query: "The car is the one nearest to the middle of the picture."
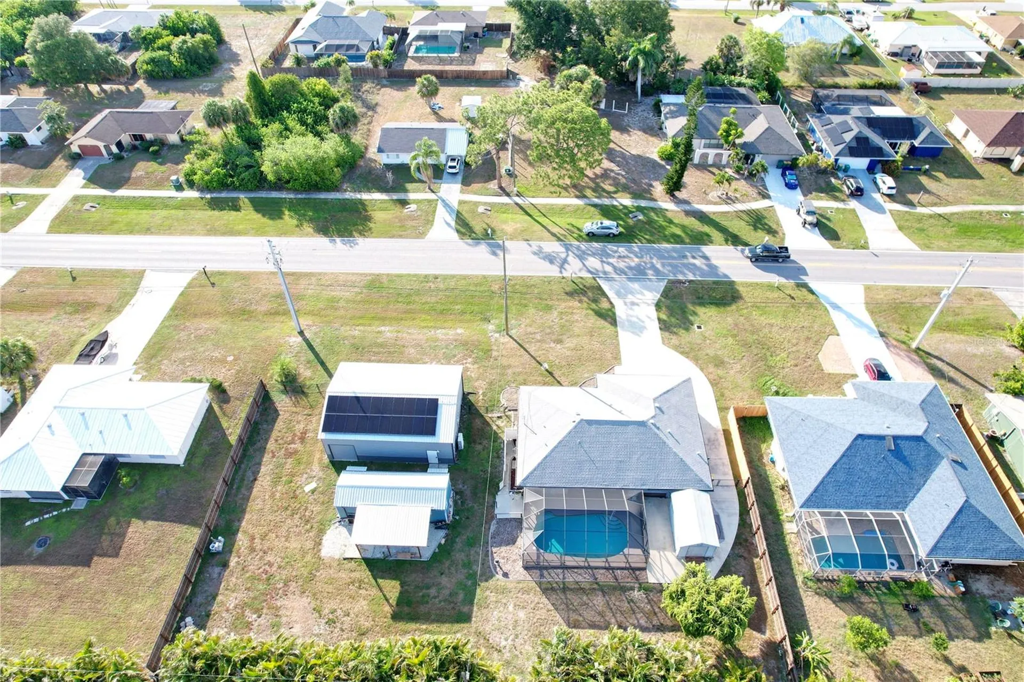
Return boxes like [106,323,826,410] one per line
[583,219,621,238]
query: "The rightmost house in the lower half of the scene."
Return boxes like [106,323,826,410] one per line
[984,393,1024,493]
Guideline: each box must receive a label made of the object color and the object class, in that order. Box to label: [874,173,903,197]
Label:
white car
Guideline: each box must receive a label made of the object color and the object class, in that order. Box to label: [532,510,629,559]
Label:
blue swimming pool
